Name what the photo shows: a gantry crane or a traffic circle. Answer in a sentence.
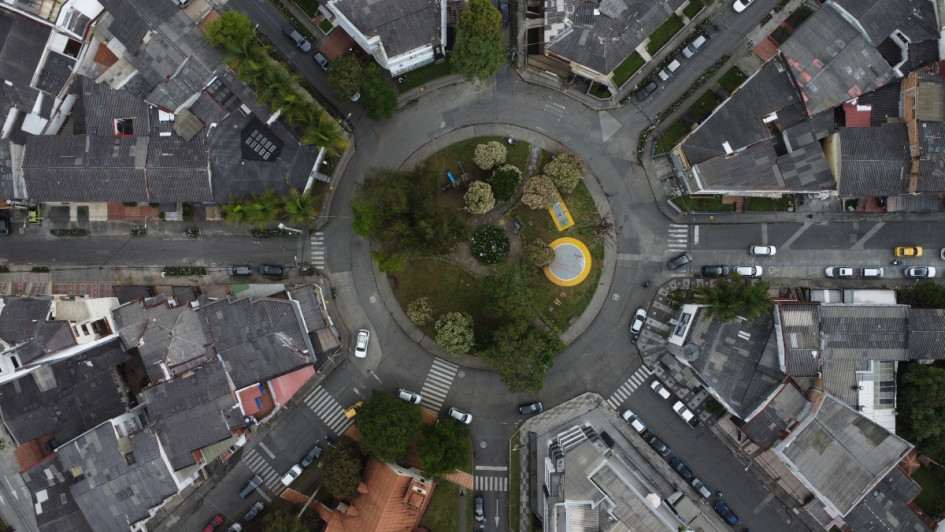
The image shows a traffic circle.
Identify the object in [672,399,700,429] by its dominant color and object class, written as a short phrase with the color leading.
white truck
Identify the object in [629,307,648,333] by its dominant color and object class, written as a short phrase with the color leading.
white car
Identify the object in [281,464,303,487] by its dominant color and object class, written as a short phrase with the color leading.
white car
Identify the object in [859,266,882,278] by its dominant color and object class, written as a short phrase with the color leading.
white vehicle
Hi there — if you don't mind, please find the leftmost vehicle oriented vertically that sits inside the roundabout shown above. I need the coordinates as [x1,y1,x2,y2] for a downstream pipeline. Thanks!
[355,330,370,357]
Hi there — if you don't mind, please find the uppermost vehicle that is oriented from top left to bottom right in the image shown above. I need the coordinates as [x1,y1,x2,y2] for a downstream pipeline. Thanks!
[282,23,311,54]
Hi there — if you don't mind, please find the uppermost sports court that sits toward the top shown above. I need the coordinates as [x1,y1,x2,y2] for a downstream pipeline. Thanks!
[545,190,575,231]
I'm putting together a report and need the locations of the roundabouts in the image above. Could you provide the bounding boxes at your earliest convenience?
[302,55,686,449]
